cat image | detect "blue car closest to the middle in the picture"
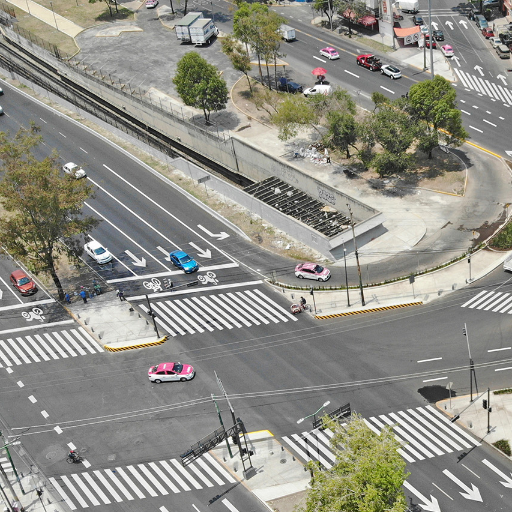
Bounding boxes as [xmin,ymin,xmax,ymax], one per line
[168,250,200,275]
